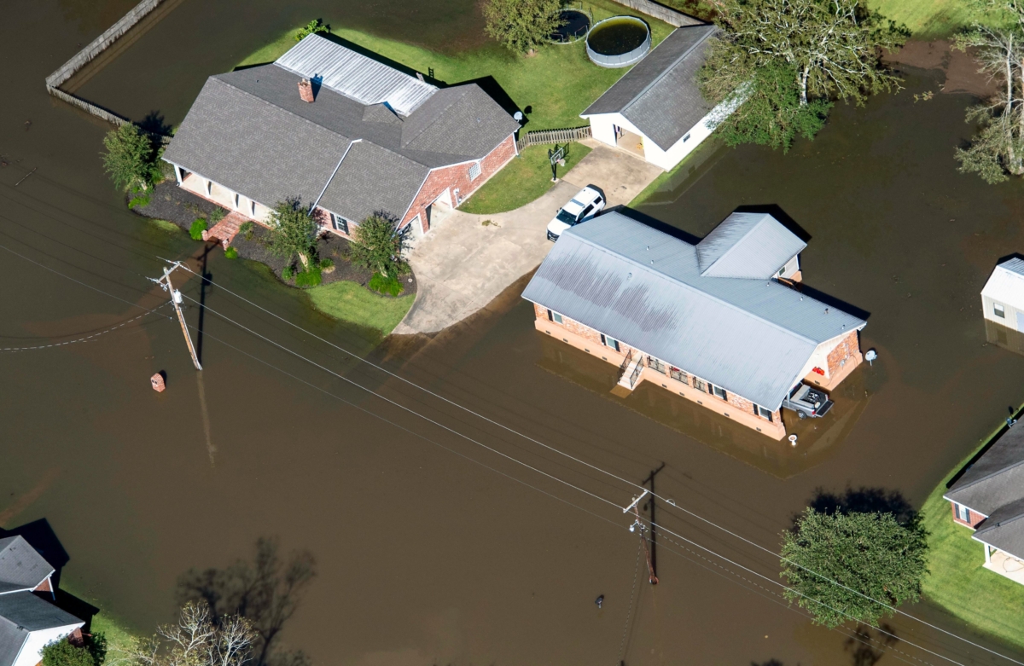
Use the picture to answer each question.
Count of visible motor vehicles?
2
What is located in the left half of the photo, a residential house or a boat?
residential house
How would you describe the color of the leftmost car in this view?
white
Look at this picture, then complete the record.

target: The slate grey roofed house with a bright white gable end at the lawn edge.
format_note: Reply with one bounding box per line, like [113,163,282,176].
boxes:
[0,534,92,666]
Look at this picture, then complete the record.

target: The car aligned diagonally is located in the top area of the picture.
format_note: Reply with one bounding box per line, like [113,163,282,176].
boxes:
[545,185,614,242]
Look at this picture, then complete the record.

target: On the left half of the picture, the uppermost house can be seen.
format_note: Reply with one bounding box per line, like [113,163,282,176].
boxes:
[160,34,523,262]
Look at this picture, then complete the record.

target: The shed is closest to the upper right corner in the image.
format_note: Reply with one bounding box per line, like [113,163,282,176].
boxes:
[981,258,1024,335]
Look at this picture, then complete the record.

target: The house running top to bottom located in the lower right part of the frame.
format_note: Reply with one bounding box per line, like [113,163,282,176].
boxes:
[943,415,1024,587]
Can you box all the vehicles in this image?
[783,382,834,420]
[545,185,614,242]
